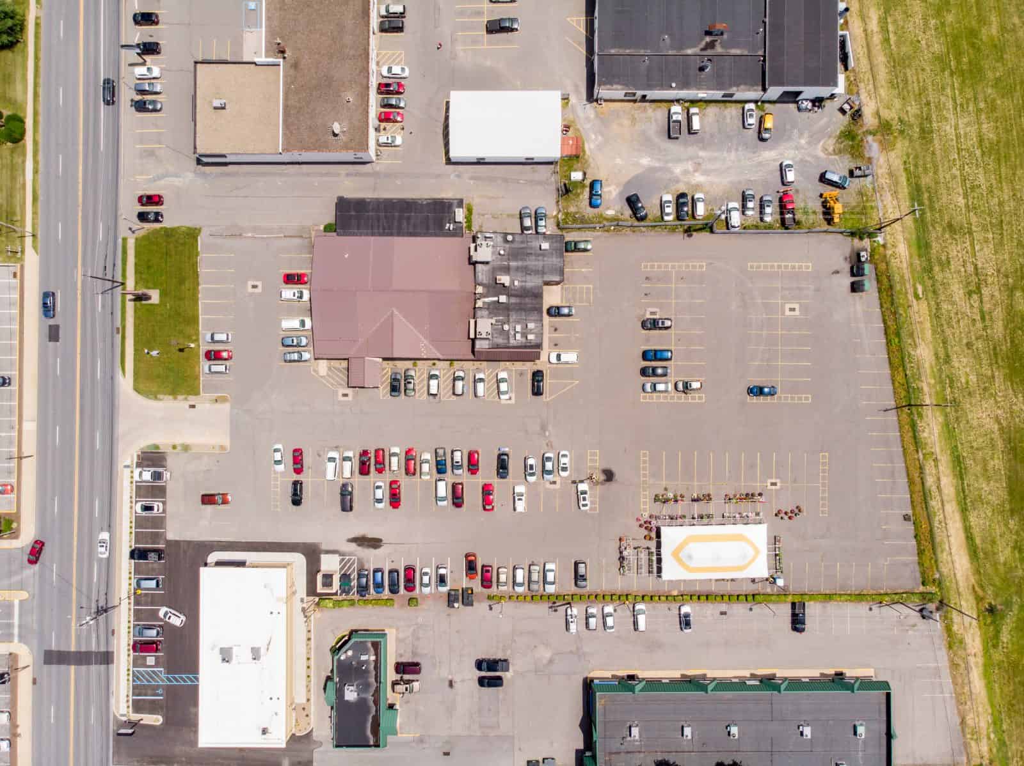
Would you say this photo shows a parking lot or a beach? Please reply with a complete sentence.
It's a parking lot.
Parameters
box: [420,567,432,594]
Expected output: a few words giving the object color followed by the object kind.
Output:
white vehicle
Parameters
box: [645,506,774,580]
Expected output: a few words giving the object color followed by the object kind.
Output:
white tent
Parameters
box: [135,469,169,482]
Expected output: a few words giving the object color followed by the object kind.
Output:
white vehicle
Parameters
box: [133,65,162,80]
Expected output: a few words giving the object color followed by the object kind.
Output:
white car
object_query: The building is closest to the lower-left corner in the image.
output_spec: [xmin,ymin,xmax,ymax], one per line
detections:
[197,558,296,748]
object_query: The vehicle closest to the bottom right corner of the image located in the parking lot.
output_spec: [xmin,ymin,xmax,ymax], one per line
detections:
[791,601,806,633]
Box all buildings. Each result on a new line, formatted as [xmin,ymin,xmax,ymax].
[308,197,564,388]
[197,558,296,748]
[589,679,893,766]
[450,91,561,162]
[193,0,379,165]
[325,631,398,747]
[593,0,855,102]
